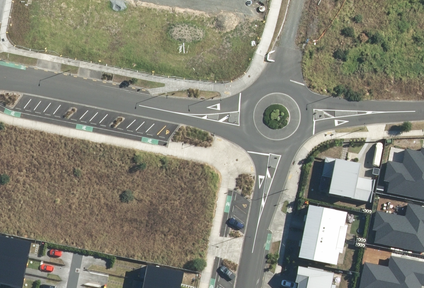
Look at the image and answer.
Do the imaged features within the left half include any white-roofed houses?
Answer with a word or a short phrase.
No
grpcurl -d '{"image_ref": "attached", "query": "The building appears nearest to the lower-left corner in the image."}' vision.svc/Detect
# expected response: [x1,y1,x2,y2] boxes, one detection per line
[0,234,30,287]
